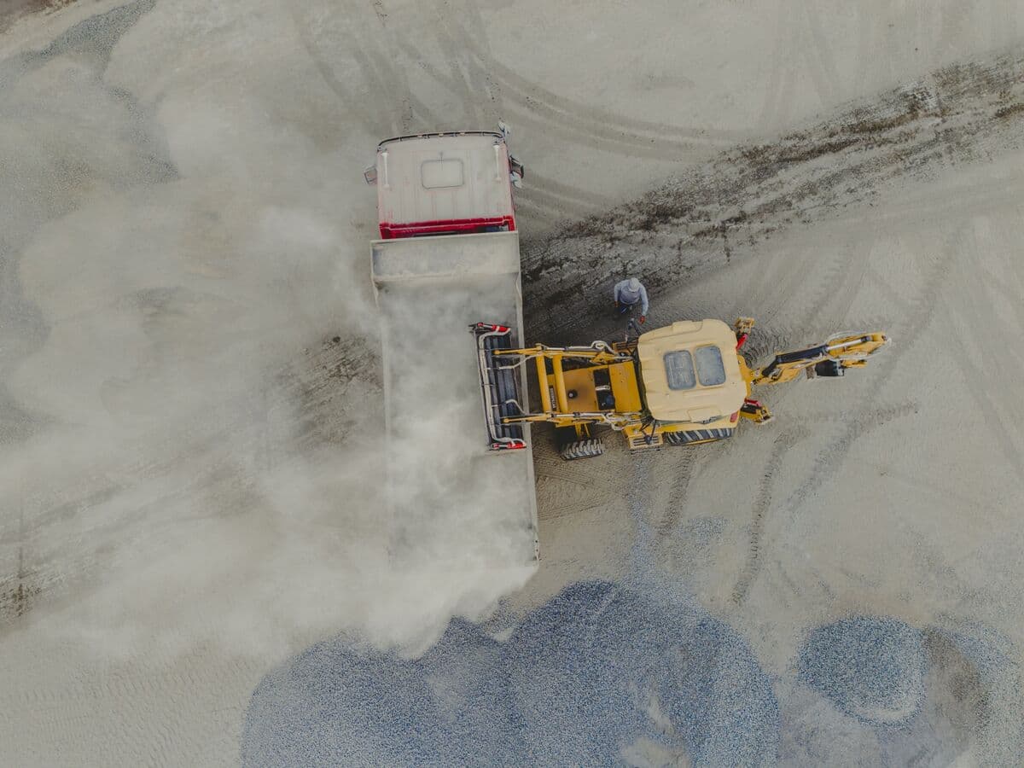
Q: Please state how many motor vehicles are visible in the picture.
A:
2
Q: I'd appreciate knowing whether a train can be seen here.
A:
No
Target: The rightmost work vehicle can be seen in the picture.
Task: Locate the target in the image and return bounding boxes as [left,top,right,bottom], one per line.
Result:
[467,315,892,466]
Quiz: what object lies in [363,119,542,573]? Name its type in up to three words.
truck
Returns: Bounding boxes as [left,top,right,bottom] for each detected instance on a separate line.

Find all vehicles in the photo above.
[363,119,542,573]
[467,315,892,466]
